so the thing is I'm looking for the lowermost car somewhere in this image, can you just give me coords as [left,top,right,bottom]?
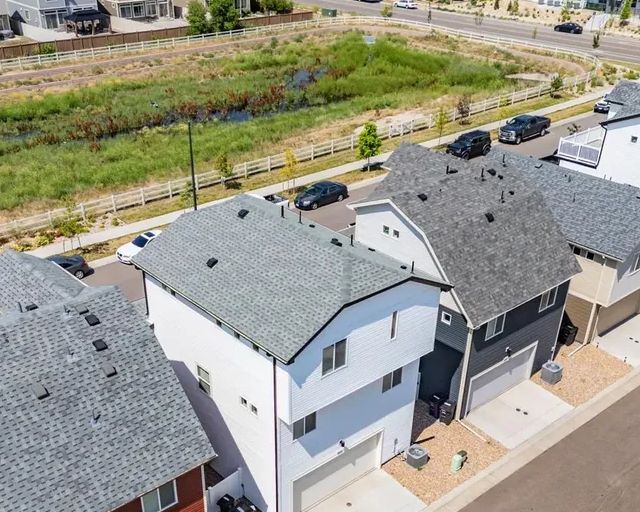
[34,248,93,276]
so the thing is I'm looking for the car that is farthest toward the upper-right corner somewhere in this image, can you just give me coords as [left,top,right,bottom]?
[546,19,582,33]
